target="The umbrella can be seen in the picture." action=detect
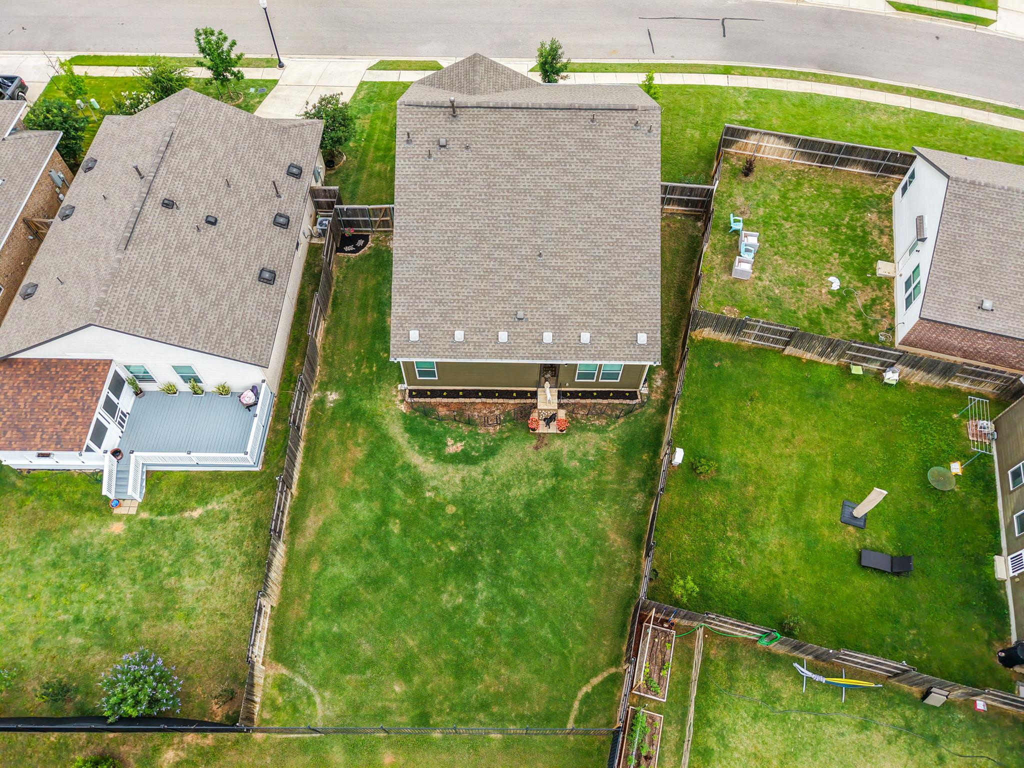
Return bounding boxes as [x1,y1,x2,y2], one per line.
[841,486,888,524]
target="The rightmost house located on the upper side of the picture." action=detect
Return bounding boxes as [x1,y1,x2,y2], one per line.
[877,146,1024,377]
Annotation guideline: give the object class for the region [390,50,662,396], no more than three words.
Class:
house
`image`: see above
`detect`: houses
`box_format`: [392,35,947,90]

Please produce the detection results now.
[877,146,1024,377]
[992,407,1024,649]
[0,90,323,393]
[390,50,662,396]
